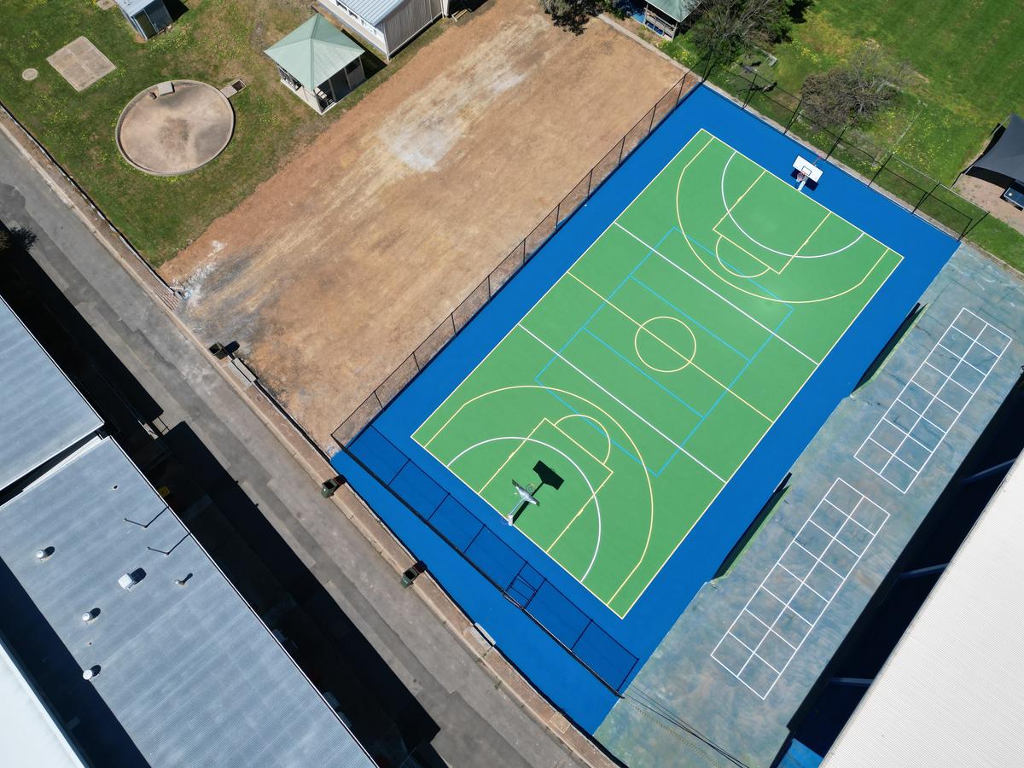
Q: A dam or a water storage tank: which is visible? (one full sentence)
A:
This aerial view contains a water storage tank.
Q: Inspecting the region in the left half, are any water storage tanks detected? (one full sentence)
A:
Yes, I can see a water storage tank in the left half.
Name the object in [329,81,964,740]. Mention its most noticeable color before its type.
green sports court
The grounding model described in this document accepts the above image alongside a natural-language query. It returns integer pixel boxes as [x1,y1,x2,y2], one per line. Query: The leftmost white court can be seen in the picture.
[710,477,891,699]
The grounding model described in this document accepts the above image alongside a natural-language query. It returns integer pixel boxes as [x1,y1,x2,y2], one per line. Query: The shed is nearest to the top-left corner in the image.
[102,0,172,41]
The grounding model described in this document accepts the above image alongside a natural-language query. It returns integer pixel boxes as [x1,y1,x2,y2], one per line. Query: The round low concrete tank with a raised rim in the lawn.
[116,79,239,181]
